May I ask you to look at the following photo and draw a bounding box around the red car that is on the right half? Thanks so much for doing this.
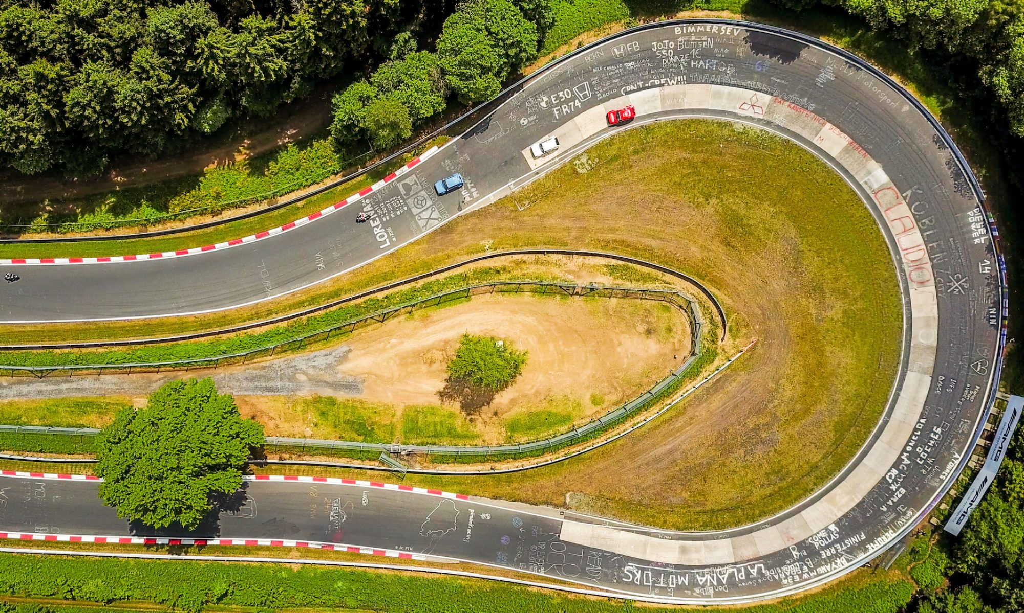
[604,108,637,127]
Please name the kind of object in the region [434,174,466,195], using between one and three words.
car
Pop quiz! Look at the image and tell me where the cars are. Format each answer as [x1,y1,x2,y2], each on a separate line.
[434,174,466,195]
[604,108,637,127]
[529,136,561,158]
